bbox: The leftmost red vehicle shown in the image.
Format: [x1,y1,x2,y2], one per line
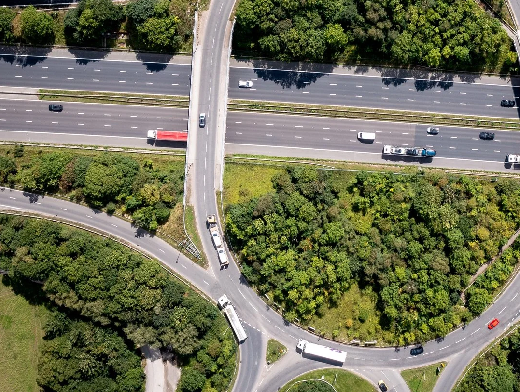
[149,129,187,142]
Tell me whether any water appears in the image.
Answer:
No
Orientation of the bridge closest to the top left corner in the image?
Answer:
up and down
